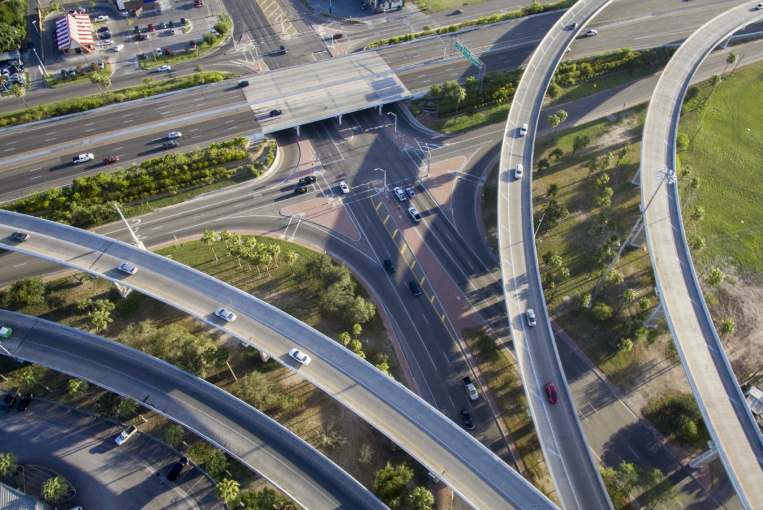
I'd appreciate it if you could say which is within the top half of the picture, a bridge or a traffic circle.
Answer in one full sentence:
Visible within the top half of the picture is a bridge.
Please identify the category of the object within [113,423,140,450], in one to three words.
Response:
truck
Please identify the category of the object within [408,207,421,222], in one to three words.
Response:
vehicle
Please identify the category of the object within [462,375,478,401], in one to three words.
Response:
vehicle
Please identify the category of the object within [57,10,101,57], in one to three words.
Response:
building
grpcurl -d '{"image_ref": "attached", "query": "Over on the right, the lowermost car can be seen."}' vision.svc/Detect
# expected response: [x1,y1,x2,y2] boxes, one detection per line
[460,408,475,430]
